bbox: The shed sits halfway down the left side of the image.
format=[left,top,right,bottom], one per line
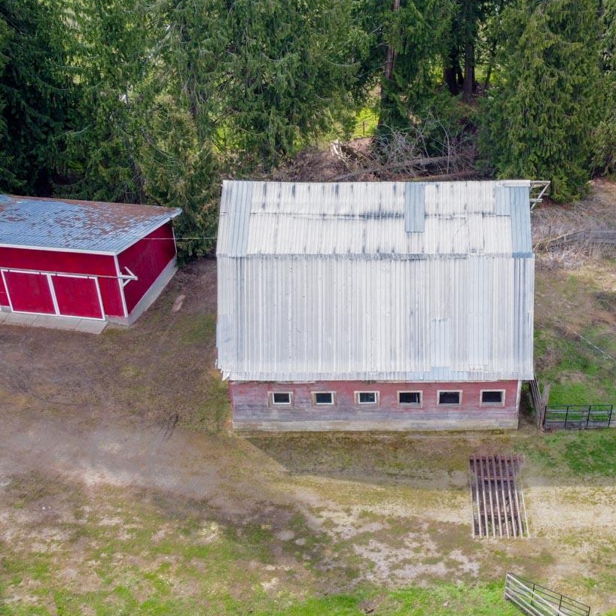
[0,199,185,326]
